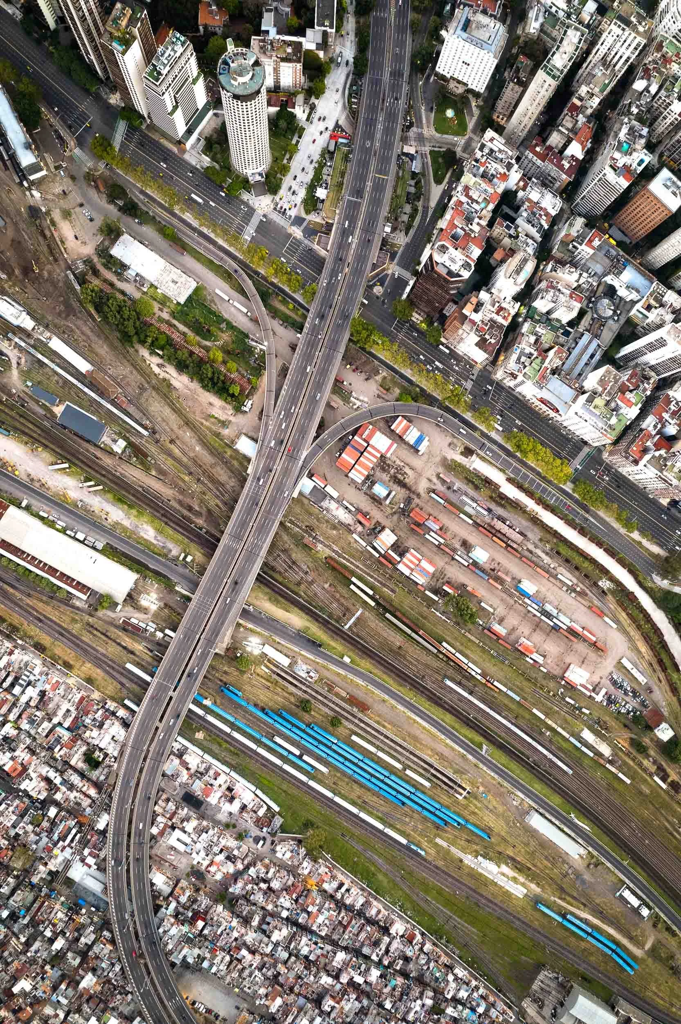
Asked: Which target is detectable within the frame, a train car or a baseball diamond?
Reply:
train car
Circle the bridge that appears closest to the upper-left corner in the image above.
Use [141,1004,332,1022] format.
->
[136,194,276,453]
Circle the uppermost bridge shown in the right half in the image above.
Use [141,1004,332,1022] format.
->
[298,402,586,524]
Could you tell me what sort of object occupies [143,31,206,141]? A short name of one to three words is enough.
building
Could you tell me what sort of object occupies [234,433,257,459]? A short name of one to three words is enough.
shed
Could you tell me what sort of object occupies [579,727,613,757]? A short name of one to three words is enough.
shed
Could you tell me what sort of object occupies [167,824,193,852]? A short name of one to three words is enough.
building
